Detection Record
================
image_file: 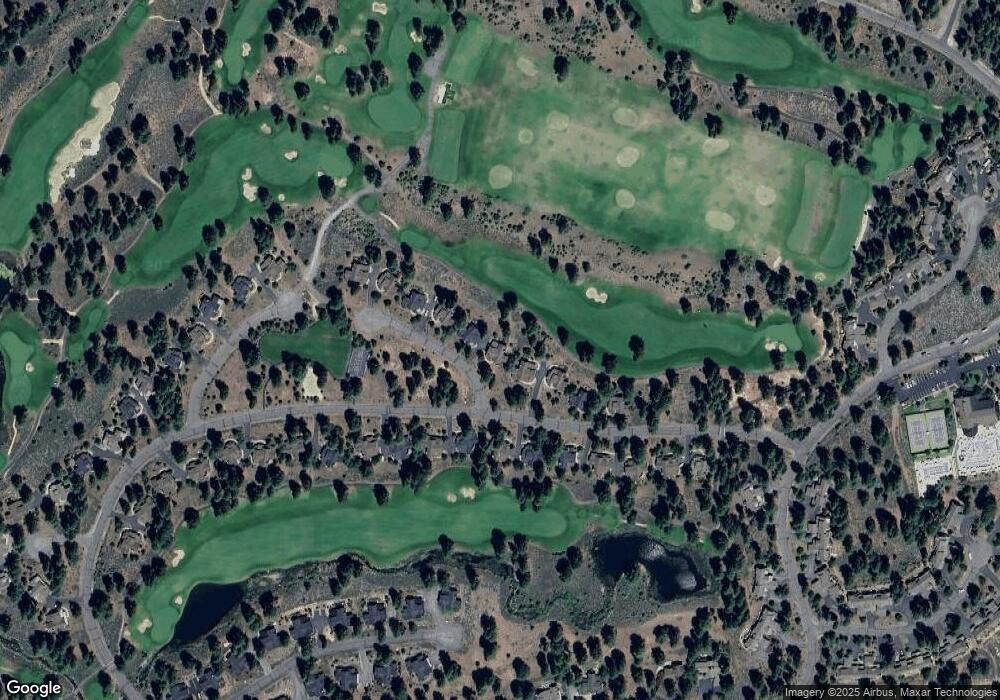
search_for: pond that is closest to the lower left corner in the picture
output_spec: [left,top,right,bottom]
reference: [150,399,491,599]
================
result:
[174,582,245,642]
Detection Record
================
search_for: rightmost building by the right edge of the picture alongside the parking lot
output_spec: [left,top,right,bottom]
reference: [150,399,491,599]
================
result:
[953,394,996,435]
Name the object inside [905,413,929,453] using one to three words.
tennis court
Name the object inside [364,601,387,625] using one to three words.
house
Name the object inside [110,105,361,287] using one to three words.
golf course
